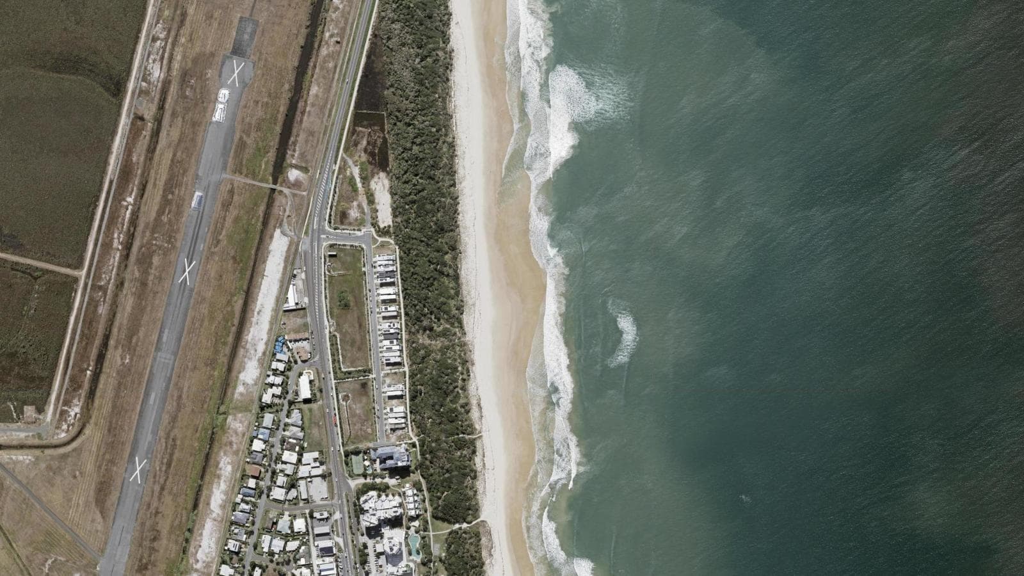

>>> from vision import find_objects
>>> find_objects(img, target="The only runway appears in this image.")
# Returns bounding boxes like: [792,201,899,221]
[101,54,254,576]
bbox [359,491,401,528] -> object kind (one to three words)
building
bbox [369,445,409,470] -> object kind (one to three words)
building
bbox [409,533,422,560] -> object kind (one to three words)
swimming pool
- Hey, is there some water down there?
Yes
